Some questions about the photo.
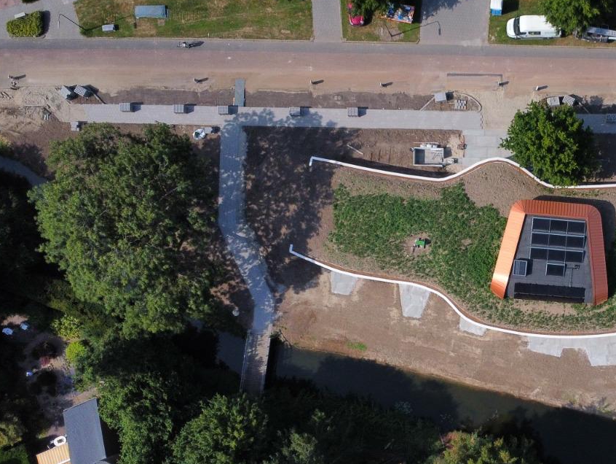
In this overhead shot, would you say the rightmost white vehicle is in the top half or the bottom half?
top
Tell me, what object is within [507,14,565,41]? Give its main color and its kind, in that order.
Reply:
white vehicle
